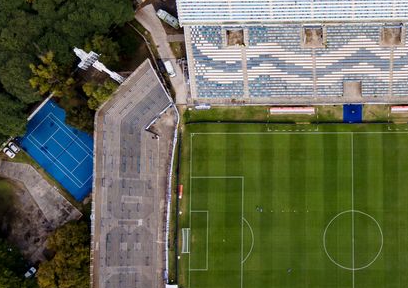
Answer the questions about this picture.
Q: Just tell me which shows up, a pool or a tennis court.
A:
tennis court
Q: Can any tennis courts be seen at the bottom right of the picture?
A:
No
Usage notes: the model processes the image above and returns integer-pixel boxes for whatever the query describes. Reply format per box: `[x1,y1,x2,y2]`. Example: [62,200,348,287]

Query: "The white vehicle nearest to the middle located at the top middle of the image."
[163,59,175,77]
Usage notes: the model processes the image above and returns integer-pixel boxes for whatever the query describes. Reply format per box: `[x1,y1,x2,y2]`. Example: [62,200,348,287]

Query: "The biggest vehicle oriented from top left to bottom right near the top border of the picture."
[156,9,182,33]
